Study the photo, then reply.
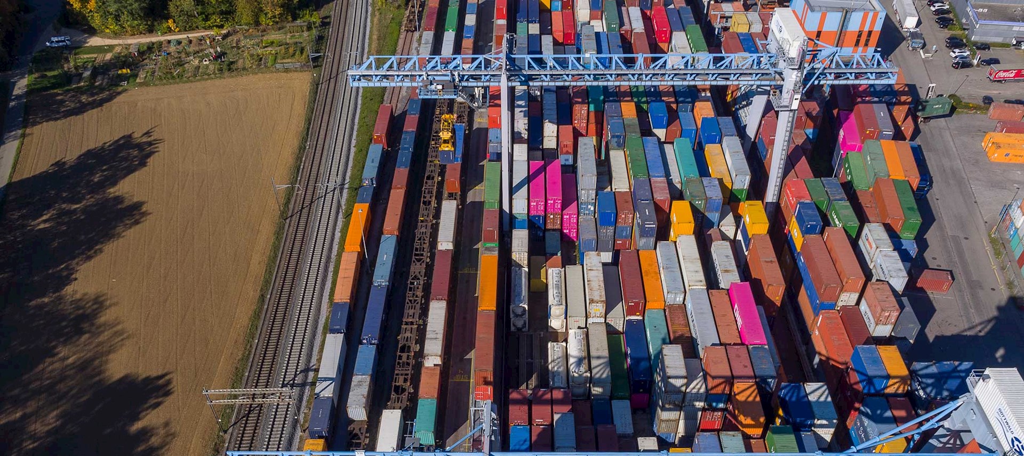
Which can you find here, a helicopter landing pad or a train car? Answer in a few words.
train car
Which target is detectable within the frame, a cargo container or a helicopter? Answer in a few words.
cargo container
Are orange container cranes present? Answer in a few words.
No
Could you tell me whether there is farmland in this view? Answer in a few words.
Yes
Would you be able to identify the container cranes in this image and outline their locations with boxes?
[345,6,900,254]
[236,361,1024,456]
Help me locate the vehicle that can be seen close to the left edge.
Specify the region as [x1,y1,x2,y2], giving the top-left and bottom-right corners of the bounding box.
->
[47,33,70,46]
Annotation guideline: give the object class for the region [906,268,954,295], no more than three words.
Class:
shipping container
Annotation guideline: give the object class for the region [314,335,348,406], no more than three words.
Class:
shipping container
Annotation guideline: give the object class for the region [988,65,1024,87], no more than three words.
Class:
truck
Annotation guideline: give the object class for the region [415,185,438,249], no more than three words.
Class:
rail car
